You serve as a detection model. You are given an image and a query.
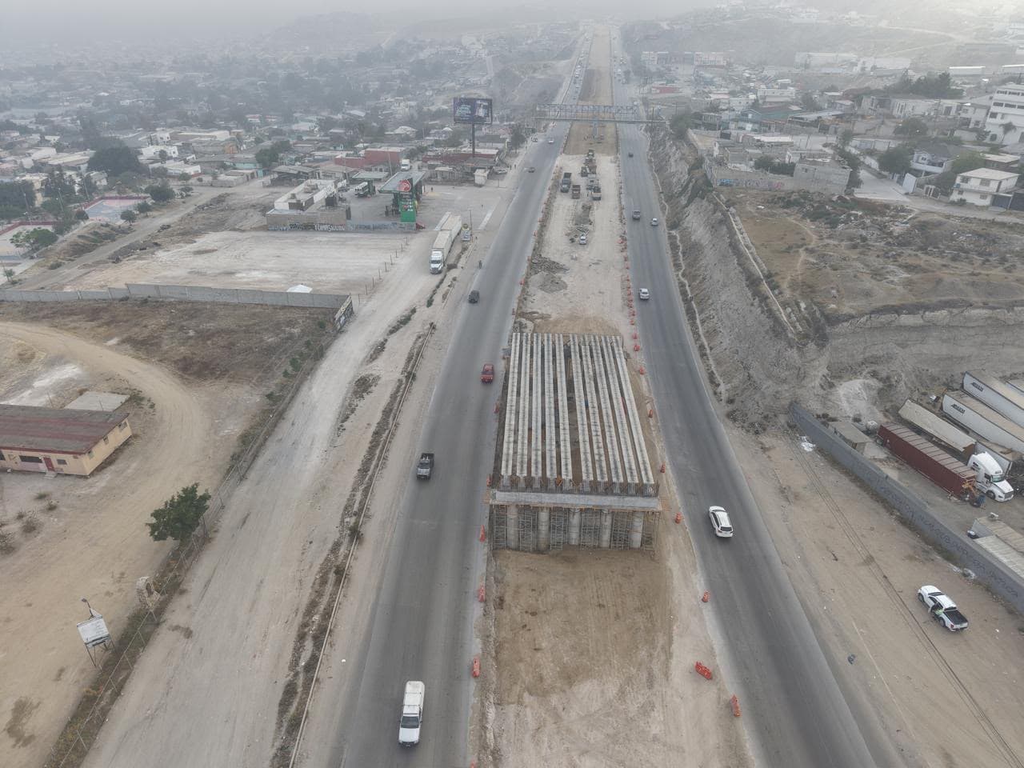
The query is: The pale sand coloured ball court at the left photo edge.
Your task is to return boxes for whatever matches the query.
[0,218,62,264]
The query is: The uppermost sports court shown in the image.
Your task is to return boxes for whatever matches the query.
[82,194,150,222]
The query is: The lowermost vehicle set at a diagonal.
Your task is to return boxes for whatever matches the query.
[918,587,978,636]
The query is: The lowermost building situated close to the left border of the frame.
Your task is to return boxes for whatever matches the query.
[0,404,133,481]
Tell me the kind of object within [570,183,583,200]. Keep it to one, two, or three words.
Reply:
vehicle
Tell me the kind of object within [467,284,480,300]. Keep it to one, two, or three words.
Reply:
vehicle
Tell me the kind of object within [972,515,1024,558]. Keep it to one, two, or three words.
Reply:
shed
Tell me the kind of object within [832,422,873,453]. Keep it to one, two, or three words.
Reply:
shed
